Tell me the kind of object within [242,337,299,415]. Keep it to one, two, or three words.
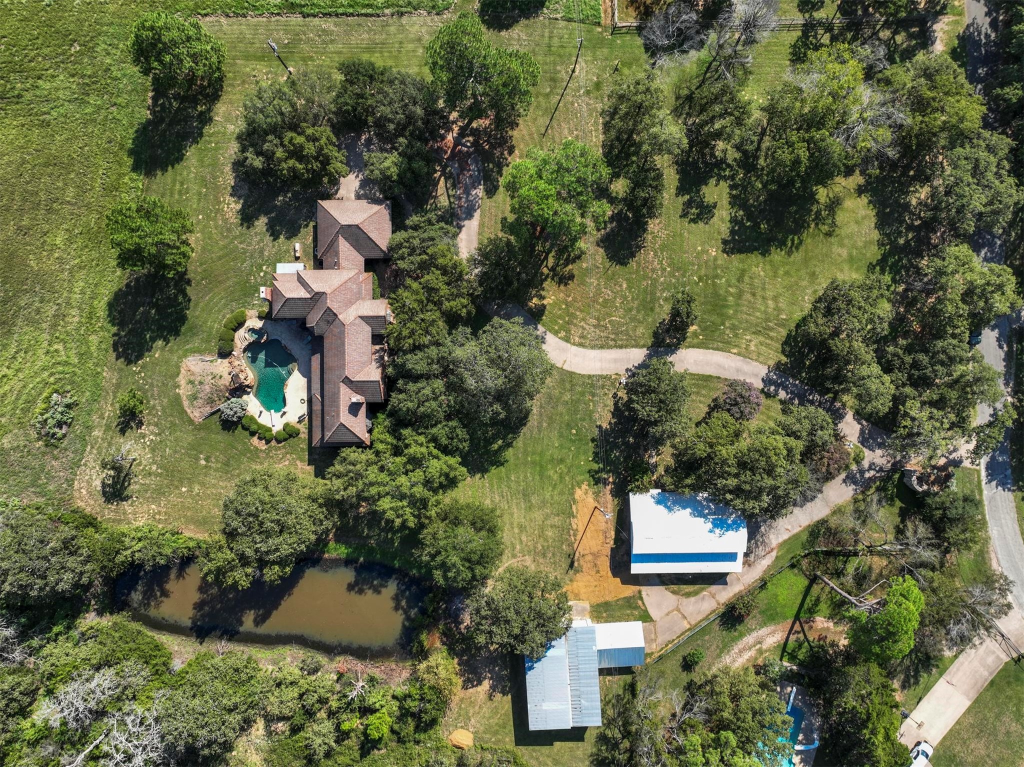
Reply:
swimming pool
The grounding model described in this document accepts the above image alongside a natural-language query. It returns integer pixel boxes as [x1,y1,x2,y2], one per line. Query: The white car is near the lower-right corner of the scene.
[912,746,934,767]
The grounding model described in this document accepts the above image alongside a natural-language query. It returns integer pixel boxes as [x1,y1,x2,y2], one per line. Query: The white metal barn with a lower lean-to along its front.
[629,488,748,574]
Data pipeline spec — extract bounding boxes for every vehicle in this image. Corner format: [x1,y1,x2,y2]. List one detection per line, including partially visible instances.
[912,746,934,767]
[967,315,983,344]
